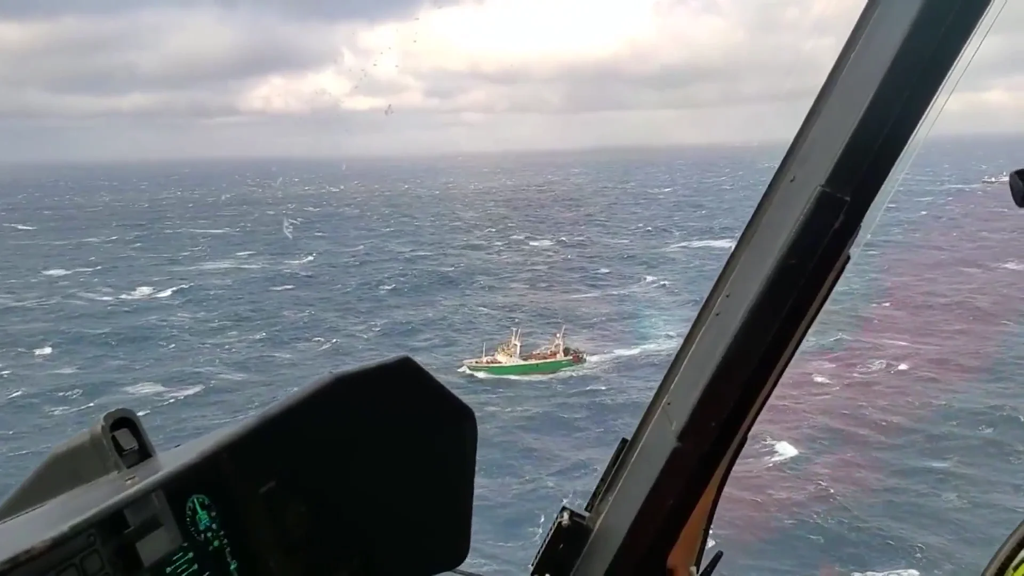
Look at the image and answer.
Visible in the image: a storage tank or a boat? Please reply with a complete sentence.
There is a boat in the scene.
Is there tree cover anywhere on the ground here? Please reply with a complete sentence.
No, the picture contains no tree cover.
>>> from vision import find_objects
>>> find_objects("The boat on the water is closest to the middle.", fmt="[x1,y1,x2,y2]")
[464,325,588,376]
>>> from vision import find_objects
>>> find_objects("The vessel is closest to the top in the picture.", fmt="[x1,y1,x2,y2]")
[979,169,1012,184]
